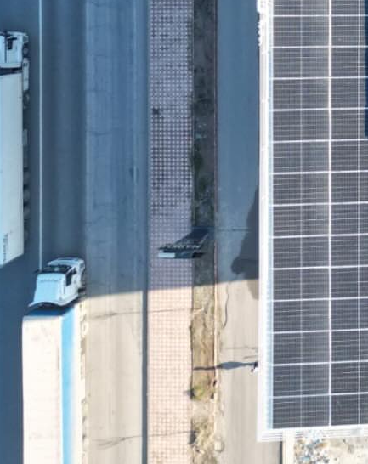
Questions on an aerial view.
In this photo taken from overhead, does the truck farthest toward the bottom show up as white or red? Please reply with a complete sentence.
The truck farthest toward the bottom is white.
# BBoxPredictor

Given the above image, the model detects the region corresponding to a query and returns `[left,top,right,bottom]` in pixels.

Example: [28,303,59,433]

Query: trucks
[0,31,30,265]
[24,258,86,464]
